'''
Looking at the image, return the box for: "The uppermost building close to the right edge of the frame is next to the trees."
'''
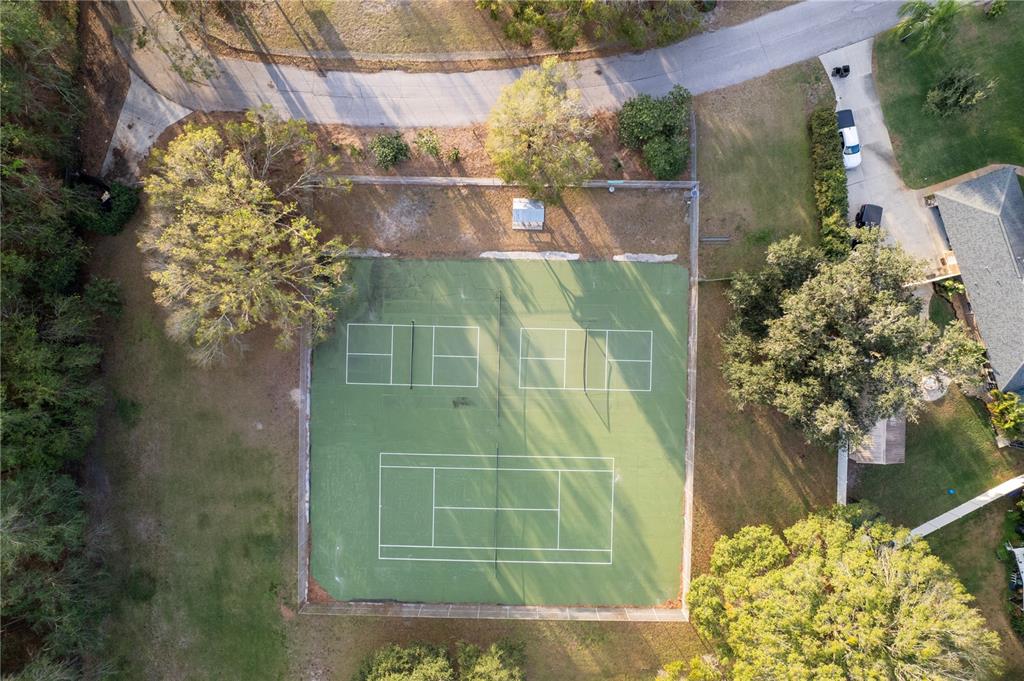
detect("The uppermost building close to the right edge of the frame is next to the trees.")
[933,168,1024,390]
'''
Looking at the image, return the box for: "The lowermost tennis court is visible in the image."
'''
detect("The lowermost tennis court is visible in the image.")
[379,453,614,565]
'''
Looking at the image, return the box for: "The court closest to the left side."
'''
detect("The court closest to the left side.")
[345,323,479,387]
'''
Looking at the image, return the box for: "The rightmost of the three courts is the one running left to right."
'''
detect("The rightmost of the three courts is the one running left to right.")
[519,328,653,391]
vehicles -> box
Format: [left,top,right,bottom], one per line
[832,107,861,170]
[854,205,882,253]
